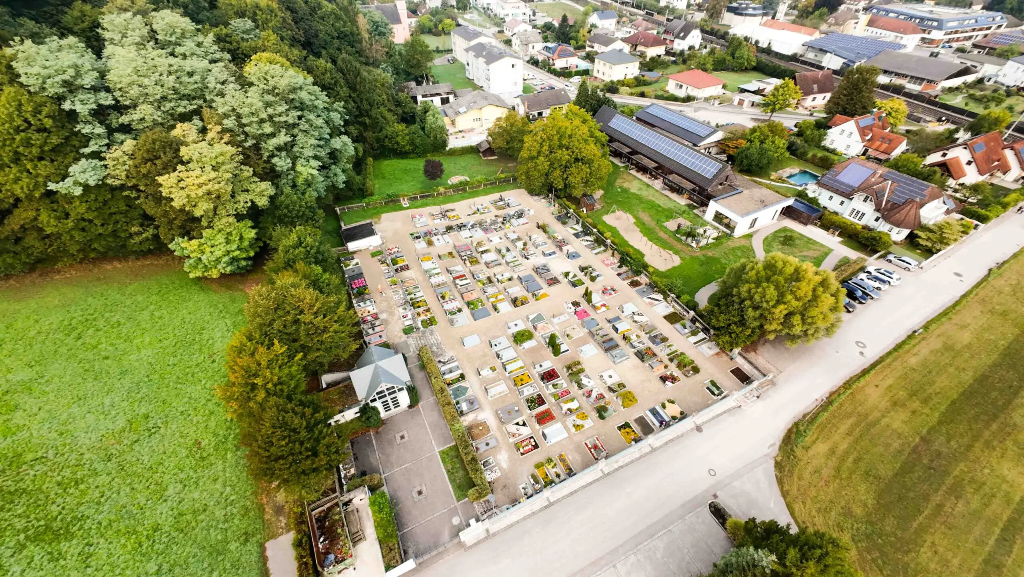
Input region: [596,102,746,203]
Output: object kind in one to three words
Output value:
building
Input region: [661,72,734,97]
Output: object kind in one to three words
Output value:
house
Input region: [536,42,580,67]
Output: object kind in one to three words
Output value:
house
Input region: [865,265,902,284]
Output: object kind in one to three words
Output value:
car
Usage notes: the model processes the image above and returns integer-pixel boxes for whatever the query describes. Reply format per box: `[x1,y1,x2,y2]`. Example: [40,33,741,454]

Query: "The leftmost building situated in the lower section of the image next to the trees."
[351,345,409,418]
